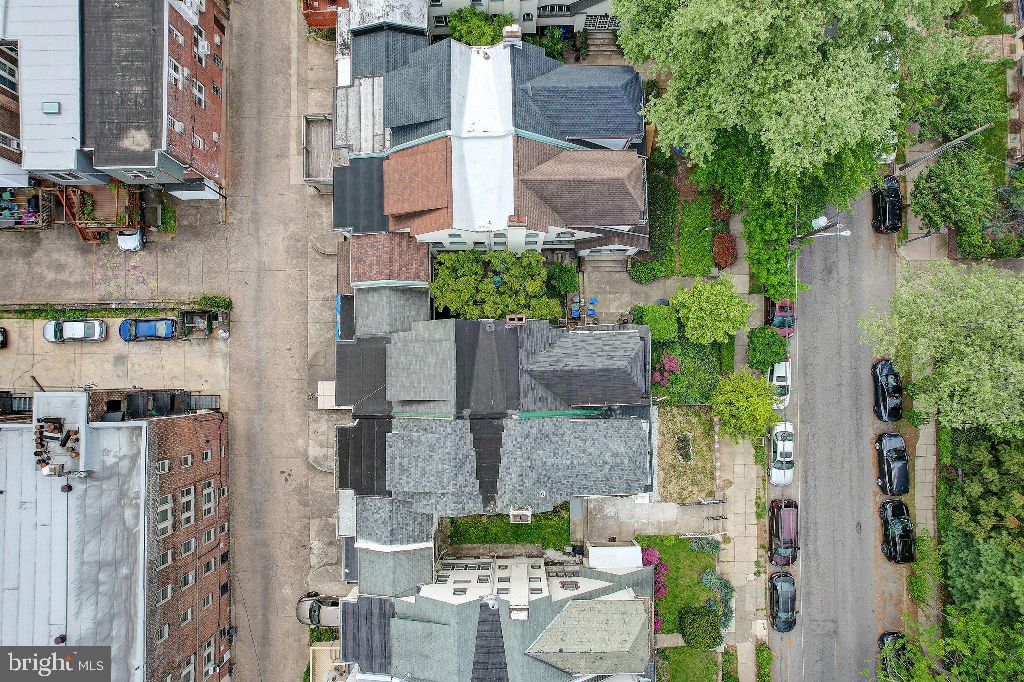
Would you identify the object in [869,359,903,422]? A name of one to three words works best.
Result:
car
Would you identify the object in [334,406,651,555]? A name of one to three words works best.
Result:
house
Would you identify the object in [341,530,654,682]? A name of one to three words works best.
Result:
house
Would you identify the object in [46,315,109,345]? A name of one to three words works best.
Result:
car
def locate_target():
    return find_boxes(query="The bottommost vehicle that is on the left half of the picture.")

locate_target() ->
[295,592,350,627]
